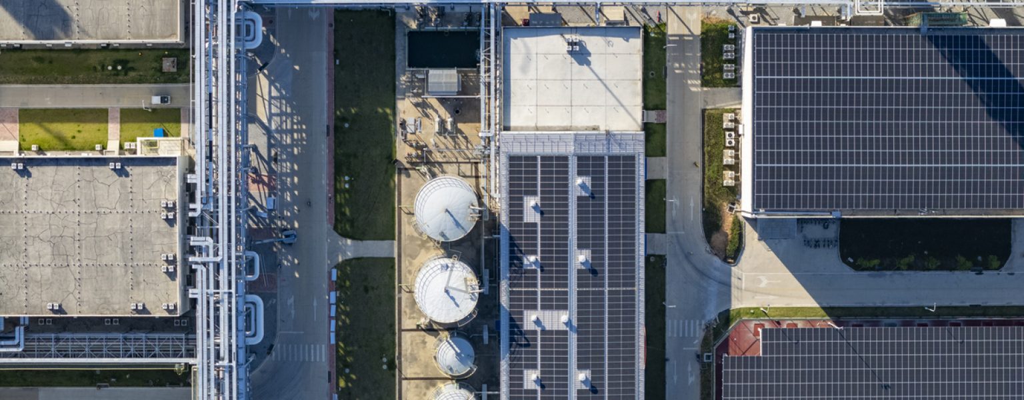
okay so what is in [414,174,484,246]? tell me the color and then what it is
white storage tank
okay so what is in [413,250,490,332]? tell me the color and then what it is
white storage tank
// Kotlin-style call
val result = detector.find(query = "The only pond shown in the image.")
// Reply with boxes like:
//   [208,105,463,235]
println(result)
[407,28,482,69]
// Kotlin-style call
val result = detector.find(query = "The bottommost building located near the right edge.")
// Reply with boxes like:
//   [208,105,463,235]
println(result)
[735,25,1024,218]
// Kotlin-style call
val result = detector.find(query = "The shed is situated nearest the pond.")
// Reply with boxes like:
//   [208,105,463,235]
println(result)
[427,69,465,96]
